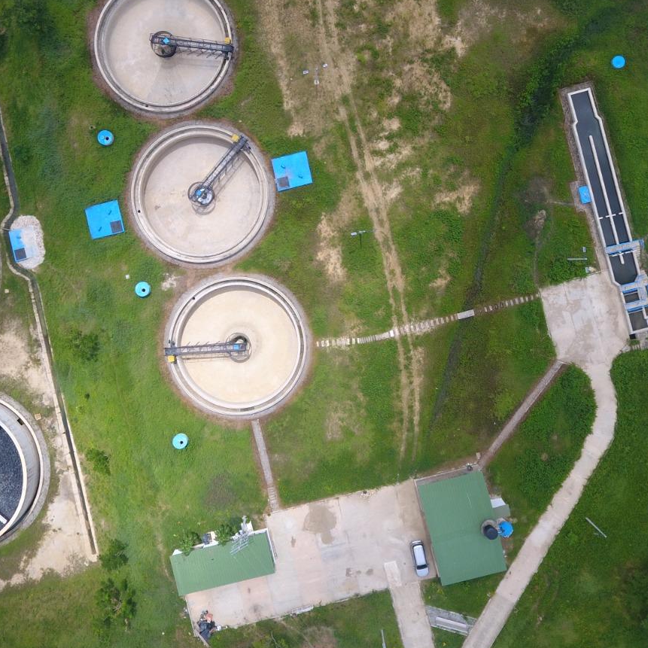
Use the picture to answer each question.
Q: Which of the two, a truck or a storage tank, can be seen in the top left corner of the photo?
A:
storage tank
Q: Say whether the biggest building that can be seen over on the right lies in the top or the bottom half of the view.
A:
bottom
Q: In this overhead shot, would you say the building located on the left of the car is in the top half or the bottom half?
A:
bottom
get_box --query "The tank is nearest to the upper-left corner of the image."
[94,0,235,112]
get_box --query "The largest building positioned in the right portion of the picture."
[419,470,507,587]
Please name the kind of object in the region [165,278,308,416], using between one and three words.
storage tank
